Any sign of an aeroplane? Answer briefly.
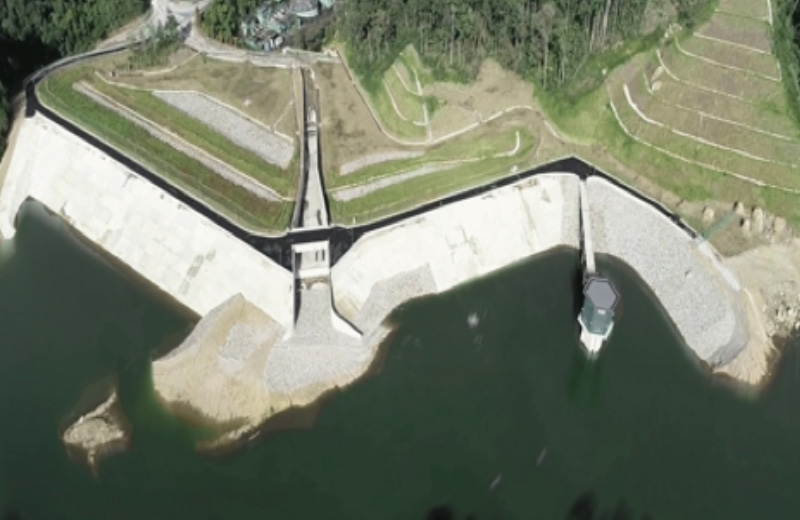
No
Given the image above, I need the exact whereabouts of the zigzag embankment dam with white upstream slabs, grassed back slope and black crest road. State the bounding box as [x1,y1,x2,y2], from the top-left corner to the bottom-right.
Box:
[0,72,748,369]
